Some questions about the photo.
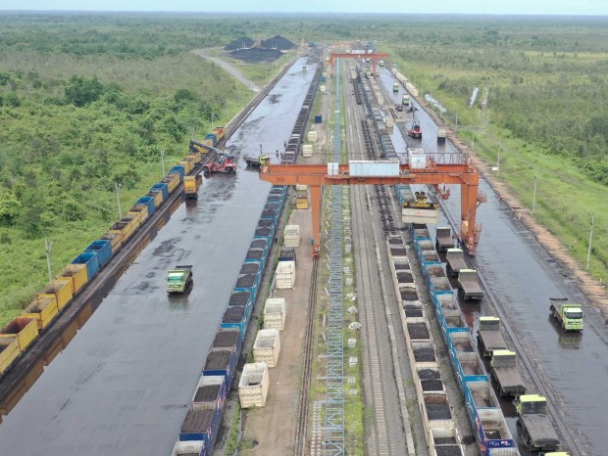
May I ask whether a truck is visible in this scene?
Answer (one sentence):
Yes, this view includes a truck.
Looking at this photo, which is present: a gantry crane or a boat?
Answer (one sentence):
There is a gantry crane in the scene.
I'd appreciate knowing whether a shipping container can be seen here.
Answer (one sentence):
Yes, the picture does show a shipping container.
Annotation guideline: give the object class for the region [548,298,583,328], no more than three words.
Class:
truck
